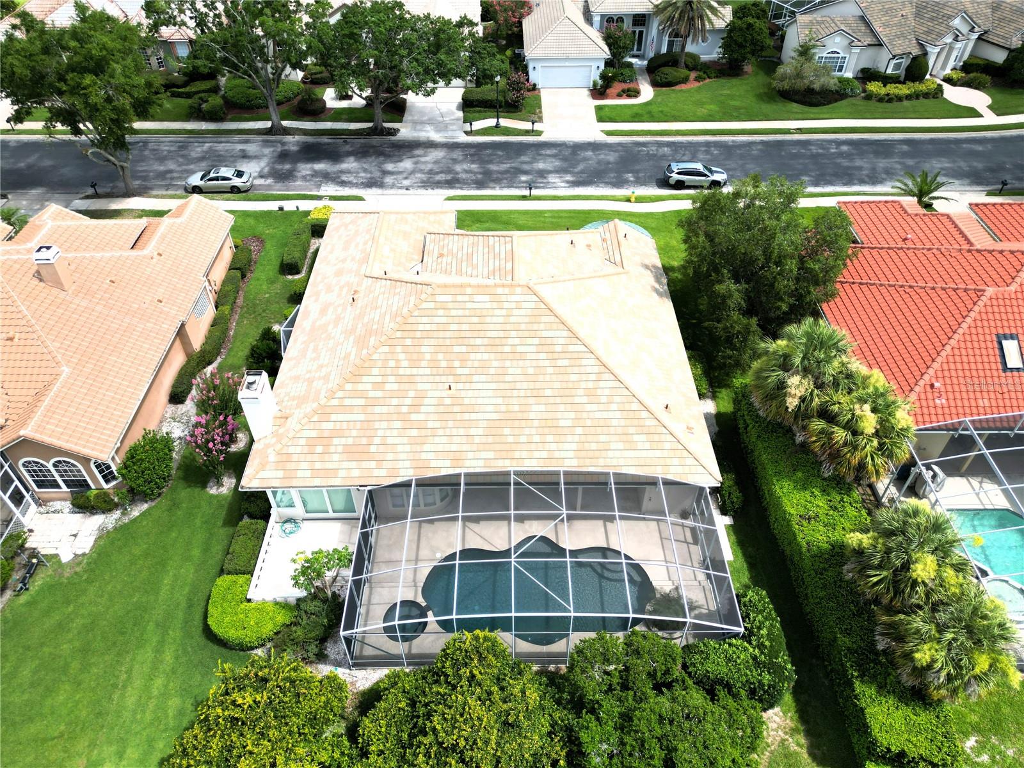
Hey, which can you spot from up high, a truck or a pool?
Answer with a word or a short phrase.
pool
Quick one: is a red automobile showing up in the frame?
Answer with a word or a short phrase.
No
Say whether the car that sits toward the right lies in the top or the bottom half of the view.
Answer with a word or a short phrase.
top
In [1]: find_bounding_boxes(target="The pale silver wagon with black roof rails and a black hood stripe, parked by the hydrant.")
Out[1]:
[661,158,729,189]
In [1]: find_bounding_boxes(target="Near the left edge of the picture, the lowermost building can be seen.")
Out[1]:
[0,196,239,496]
